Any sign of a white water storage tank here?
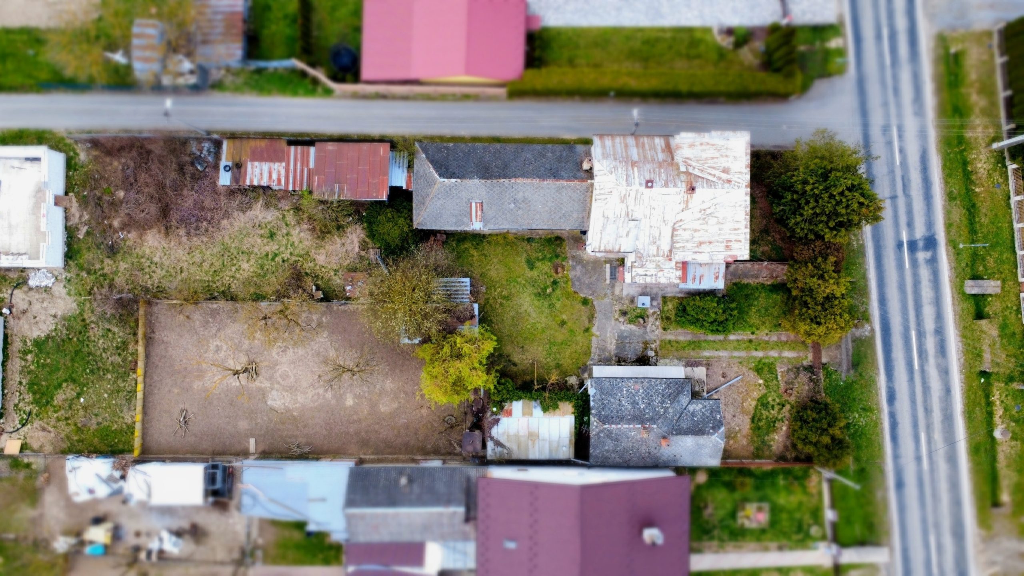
No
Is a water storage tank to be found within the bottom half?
No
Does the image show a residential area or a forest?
residential area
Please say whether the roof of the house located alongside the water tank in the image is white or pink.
pink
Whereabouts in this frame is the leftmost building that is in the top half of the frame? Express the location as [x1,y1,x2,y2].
[0,146,67,267]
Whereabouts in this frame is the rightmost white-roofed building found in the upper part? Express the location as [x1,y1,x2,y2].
[586,127,750,289]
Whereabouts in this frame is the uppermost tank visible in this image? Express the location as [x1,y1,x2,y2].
[330,46,358,75]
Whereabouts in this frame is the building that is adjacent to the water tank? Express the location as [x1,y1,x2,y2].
[360,0,541,91]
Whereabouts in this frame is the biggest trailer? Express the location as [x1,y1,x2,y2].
[148,461,213,505]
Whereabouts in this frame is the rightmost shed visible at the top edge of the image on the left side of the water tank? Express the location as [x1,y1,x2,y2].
[197,0,253,76]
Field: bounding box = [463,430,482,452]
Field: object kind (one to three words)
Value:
shed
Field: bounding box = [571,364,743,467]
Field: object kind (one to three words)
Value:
house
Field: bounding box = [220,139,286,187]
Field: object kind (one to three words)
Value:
shed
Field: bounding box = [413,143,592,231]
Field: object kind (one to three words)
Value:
house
